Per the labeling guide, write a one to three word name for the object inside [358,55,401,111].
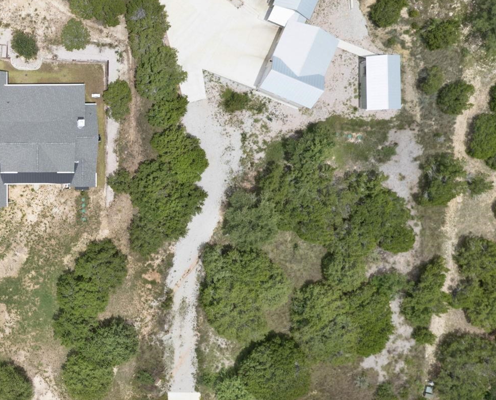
shed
